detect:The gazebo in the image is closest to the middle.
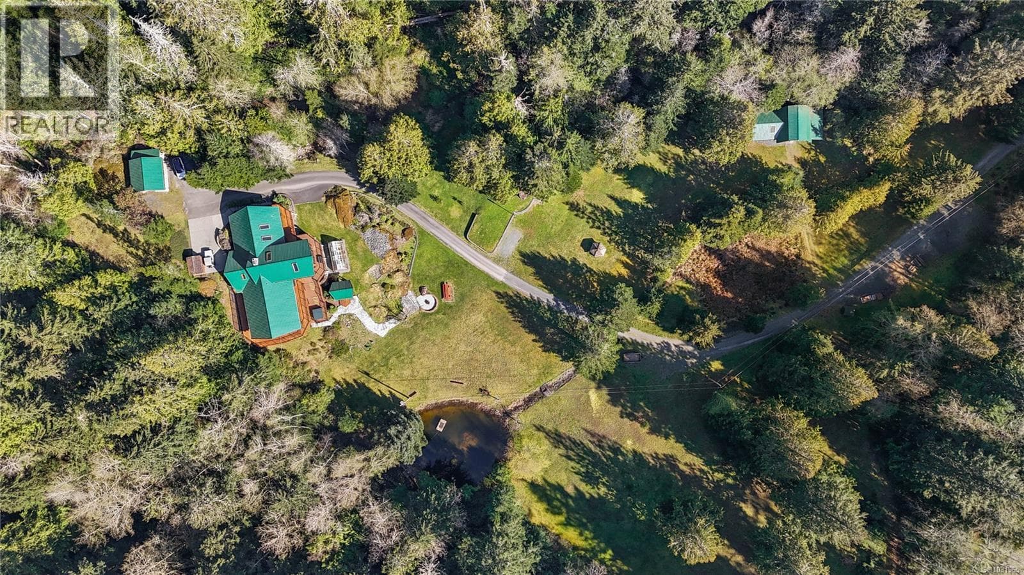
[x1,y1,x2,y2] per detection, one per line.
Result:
[590,241,608,258]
